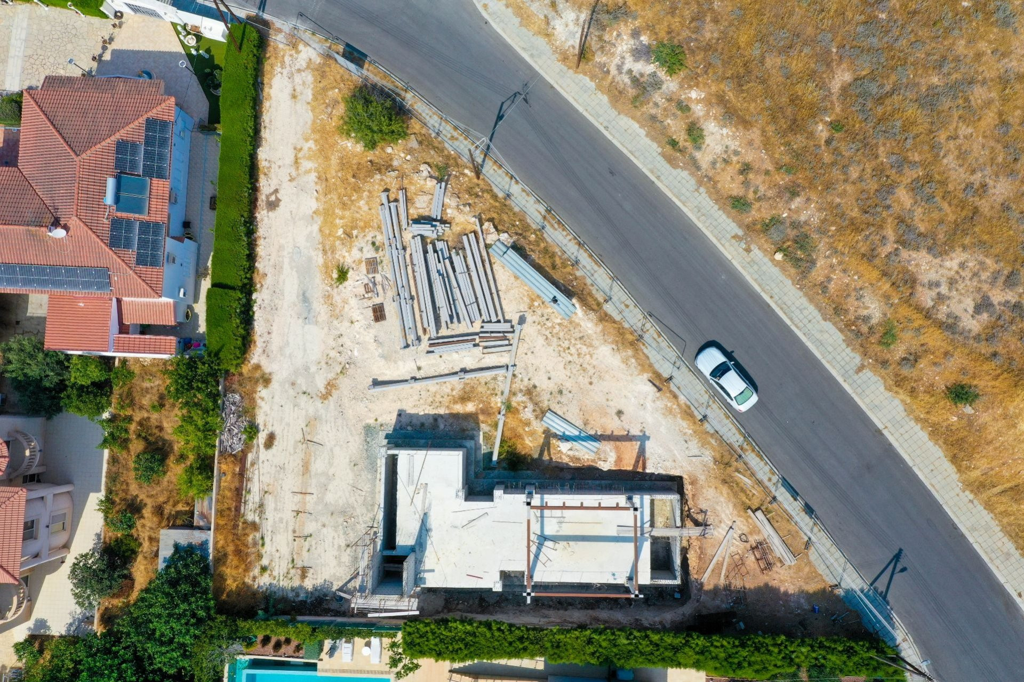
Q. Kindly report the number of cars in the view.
1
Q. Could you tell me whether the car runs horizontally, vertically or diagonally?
diagonally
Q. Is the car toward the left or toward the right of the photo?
right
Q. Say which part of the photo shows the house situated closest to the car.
bottom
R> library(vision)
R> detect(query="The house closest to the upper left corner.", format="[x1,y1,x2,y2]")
[0,75,201,358]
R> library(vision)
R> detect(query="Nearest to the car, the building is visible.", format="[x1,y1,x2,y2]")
[367,431,683,596]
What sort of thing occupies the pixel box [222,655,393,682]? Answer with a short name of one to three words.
swimming pool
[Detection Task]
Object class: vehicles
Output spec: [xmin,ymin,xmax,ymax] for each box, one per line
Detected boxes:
[696,347,759,413]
